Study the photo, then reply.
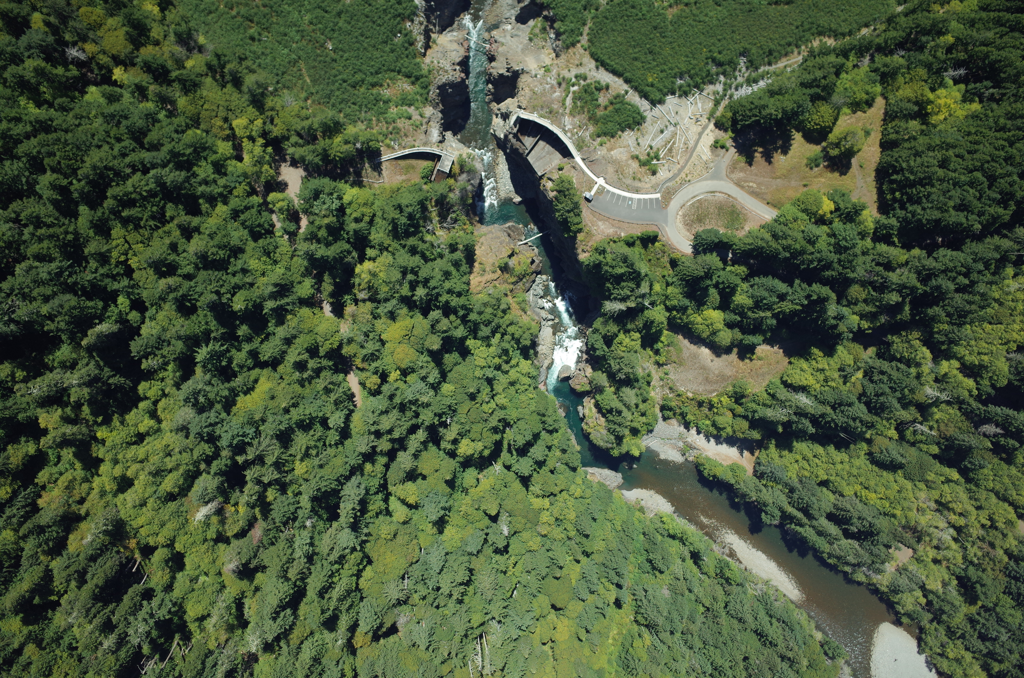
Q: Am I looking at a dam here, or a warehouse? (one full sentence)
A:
The one in the frame is a dam.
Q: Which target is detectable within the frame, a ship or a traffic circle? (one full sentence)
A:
There is a traffic circle in the scene.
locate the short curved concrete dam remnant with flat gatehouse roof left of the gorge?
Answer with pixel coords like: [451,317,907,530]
[384,146,455,184]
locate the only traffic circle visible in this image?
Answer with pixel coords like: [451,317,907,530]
[667,179,777,259]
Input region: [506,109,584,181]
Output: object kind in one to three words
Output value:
dam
